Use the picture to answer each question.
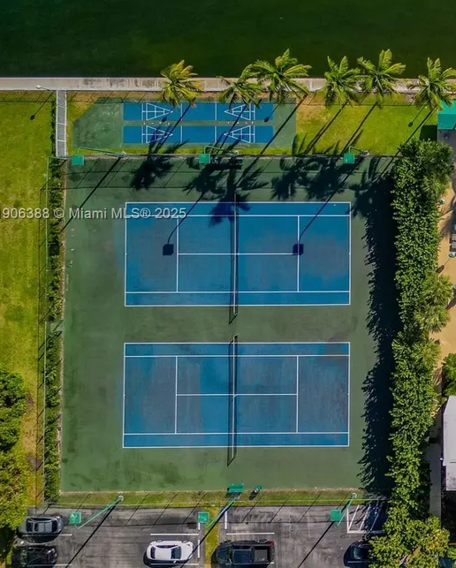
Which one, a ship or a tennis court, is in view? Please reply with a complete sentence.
Looking from above, you can make out a tennis court.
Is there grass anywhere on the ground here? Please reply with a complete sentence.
Yes, the picture does contain grass.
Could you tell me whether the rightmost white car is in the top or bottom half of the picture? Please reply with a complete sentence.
It is in the bottom half that the rightmost white car appears.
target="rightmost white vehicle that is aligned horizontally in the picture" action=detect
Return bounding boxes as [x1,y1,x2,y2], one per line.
[148,539,197,563]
